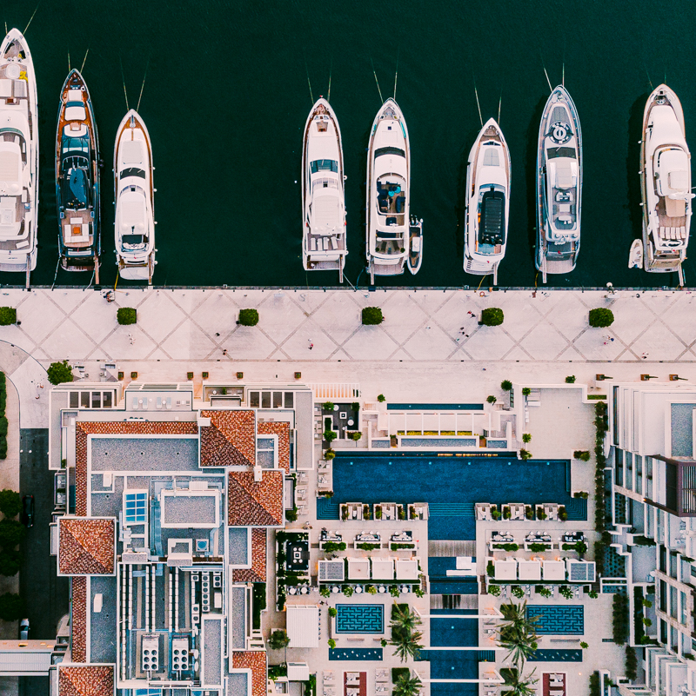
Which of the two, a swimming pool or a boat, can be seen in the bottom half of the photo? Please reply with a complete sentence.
You can see a swimming pool in the bottom half of the photo.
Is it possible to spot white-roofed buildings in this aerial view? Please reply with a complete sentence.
Yes, looking at the shot, I can spot a white-roofed building.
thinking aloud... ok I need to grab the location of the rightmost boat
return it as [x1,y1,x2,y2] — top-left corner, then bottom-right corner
[638,70,696,289]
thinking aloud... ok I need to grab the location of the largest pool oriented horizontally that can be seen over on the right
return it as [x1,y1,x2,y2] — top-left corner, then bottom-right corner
[315,458,588,540]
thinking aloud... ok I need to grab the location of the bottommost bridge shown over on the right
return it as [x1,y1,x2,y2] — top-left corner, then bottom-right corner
[430,594,478,609]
